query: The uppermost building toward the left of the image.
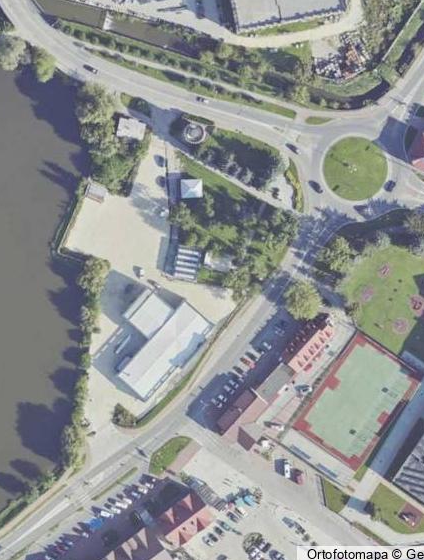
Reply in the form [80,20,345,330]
[115,119,146,139]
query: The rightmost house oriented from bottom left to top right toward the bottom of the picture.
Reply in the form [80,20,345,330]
[280,315,338,374]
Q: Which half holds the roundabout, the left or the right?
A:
right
